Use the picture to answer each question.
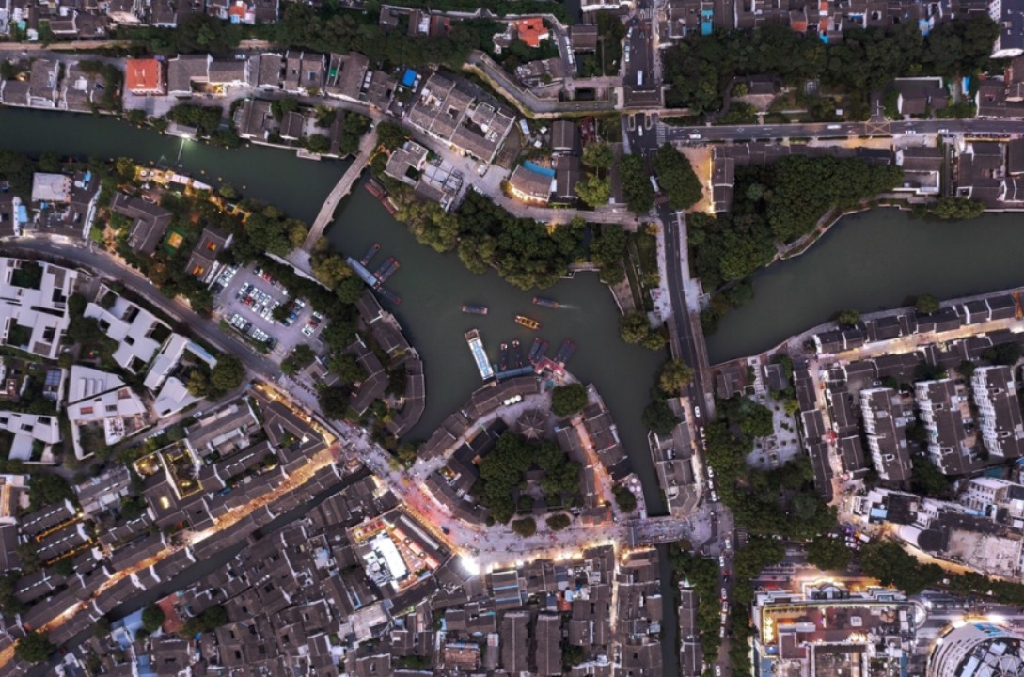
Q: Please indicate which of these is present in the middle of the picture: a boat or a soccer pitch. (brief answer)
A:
boat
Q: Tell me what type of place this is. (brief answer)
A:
residential area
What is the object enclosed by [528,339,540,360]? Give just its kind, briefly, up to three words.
boat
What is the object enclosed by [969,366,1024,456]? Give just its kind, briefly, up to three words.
building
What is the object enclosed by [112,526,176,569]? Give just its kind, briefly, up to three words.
house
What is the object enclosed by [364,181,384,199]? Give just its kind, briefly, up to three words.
boat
